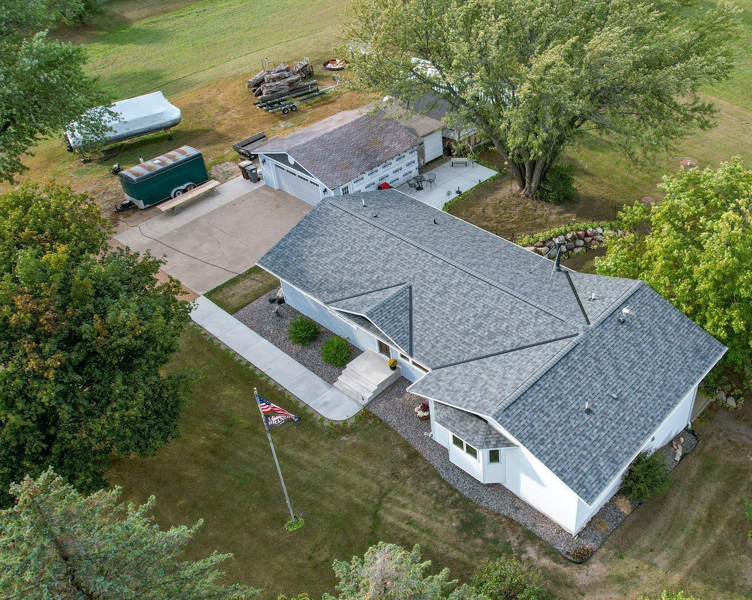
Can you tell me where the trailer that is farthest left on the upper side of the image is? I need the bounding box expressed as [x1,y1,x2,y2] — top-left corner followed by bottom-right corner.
[111,145,210,214]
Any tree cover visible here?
Yes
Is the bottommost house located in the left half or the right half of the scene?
right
